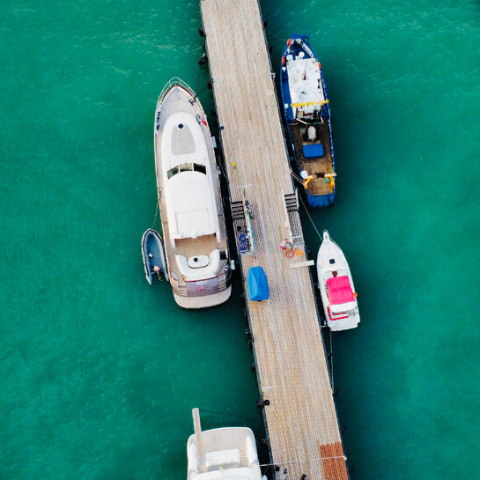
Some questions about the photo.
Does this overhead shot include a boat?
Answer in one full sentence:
Yes, a boat appears in the view.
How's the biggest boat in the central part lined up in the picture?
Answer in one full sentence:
The biggest boat in the central part has been laid out up and down relative to the frame.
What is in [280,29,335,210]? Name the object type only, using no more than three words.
boat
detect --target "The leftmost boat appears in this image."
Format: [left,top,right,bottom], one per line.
[140,229,170,285]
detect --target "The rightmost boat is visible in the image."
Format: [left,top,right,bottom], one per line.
[318,228,360,331]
